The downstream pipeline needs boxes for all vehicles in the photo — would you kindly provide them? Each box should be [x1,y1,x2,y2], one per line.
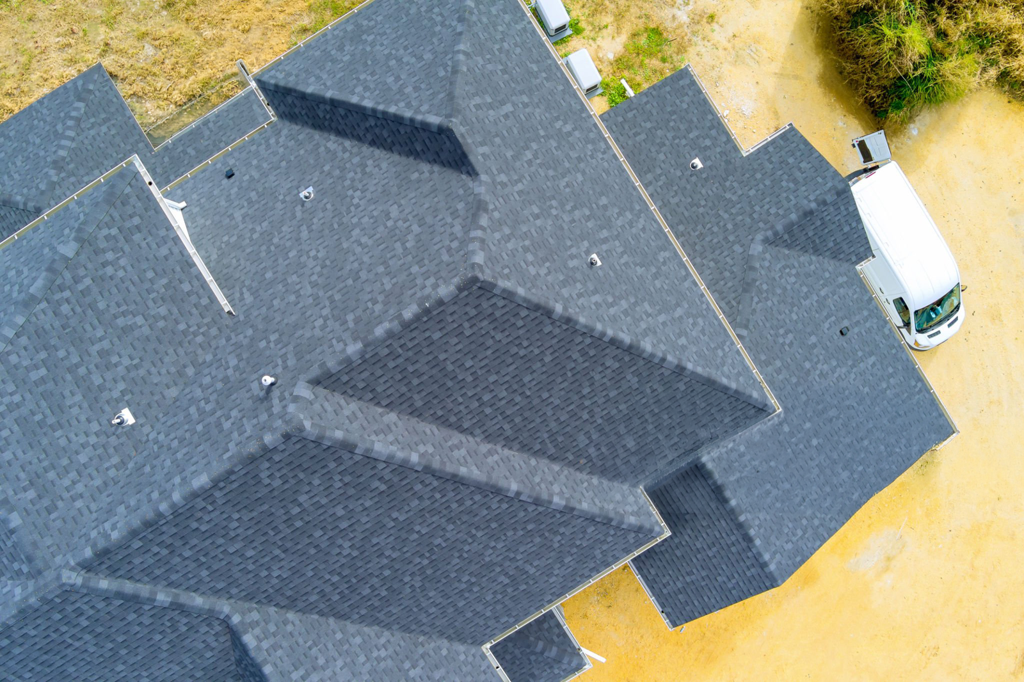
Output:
[841,128,968,349]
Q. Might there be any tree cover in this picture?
No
